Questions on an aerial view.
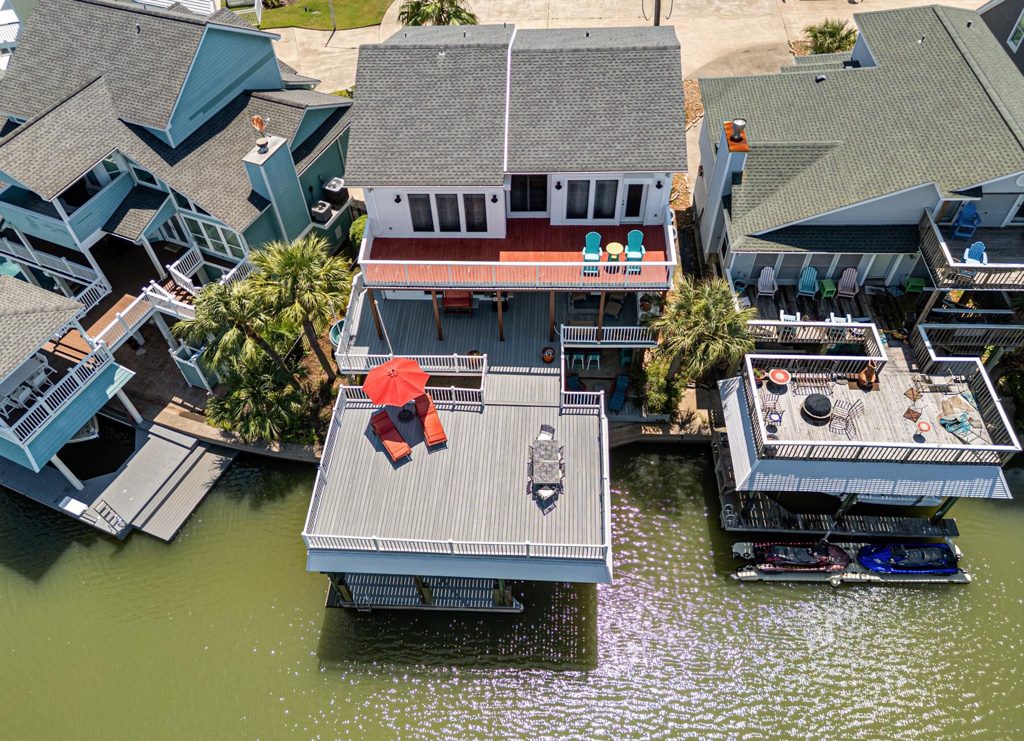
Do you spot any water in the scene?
Yes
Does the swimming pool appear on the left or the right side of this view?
left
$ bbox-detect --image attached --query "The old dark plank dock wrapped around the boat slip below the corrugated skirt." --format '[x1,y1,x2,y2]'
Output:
[712,422,958,544]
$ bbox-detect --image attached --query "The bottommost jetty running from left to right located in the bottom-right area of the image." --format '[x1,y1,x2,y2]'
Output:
[730,545,971,591]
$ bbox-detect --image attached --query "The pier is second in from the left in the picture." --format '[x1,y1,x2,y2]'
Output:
[325,549,524,623]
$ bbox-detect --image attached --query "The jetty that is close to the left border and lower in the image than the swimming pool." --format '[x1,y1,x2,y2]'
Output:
[0,435,238,549]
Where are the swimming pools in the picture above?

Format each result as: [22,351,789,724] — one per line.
[0,261,47,290]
